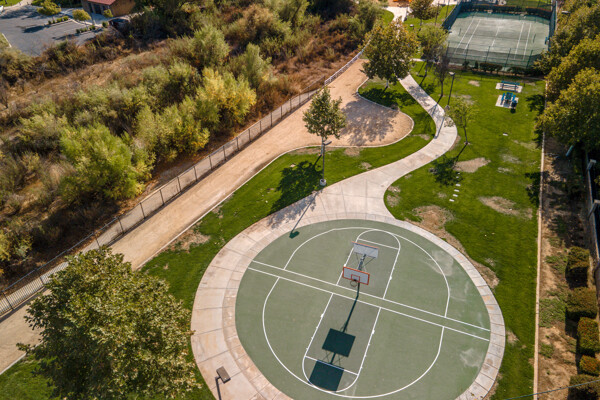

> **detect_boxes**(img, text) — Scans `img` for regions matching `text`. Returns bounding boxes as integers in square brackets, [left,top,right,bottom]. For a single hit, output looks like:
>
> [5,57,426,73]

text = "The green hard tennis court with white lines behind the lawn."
[428,9,551,74]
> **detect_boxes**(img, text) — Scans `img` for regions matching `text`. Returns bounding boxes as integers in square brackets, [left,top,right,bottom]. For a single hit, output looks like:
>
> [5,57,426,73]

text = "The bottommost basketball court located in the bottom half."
[191,205,503,400]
